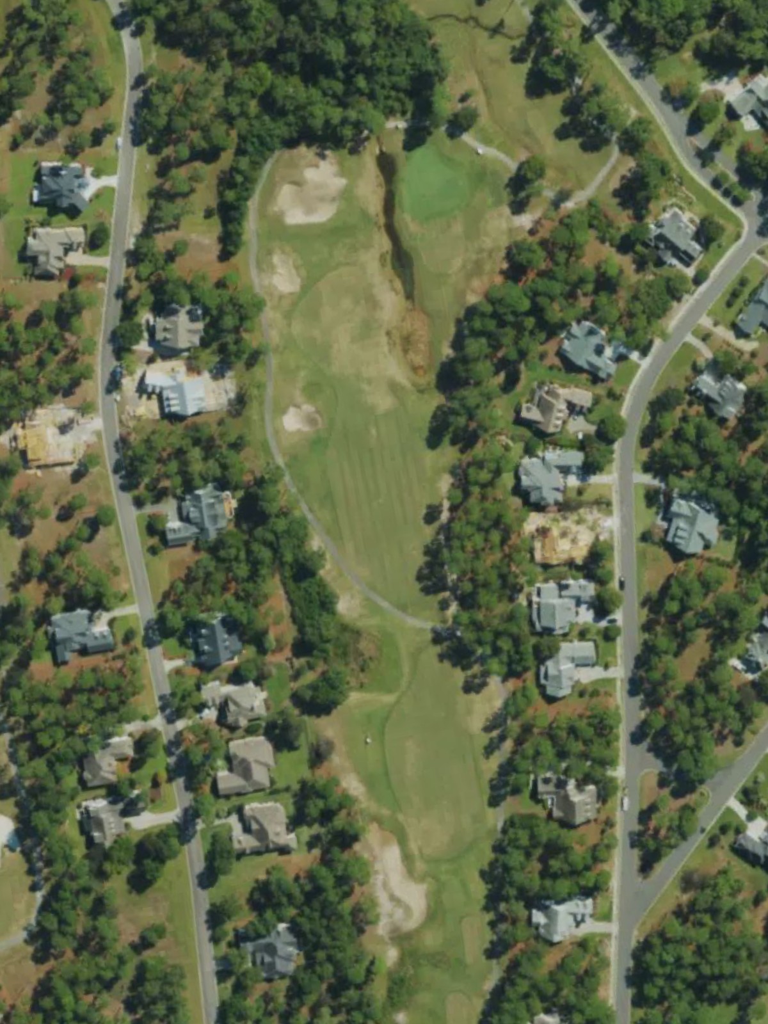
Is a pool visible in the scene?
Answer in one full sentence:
No, there's no pool here.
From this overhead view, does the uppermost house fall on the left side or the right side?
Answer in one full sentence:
It is on the right.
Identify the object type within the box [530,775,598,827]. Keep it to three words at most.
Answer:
house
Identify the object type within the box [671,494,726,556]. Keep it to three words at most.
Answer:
house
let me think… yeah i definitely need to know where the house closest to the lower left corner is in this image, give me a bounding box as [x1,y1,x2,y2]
[77,796,130,849]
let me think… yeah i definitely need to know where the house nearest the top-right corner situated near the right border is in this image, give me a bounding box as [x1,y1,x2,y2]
[729,68,768,130]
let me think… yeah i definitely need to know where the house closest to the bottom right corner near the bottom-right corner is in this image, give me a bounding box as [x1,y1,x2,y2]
[732,820,768,866]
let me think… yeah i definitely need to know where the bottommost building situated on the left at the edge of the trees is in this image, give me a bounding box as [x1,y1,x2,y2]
[239,921,304,973]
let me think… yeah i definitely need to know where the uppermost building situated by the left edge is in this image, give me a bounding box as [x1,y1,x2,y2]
[33,162,90,212]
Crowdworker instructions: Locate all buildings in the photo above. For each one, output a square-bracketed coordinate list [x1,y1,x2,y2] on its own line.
[49,607,115,663]
[77,796,130,849]
[519,450,584,508]
[83,735,134,786]
[27,224,85,276]
[743,633,768,677]
[530,775,598,827]
[519,387,593,435]
[692,370,749,422]
[232,798,298,854]
[216,732,276,797]
[647,207,709,270]
[199,679,270,727]
[155,303,205,349]
[732,820,768,866]
[165,482,237,546]
[532,578,596,634]
[540,638,596,696]
[671,494,726,556]
[33,162,90,212]
[560,317,619,381]
[193,617,244,667]
[530,894,594,943]
[735,266,768,334]
[239,921,304,973]
[145,358,228,419]
[729,68,768,130]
